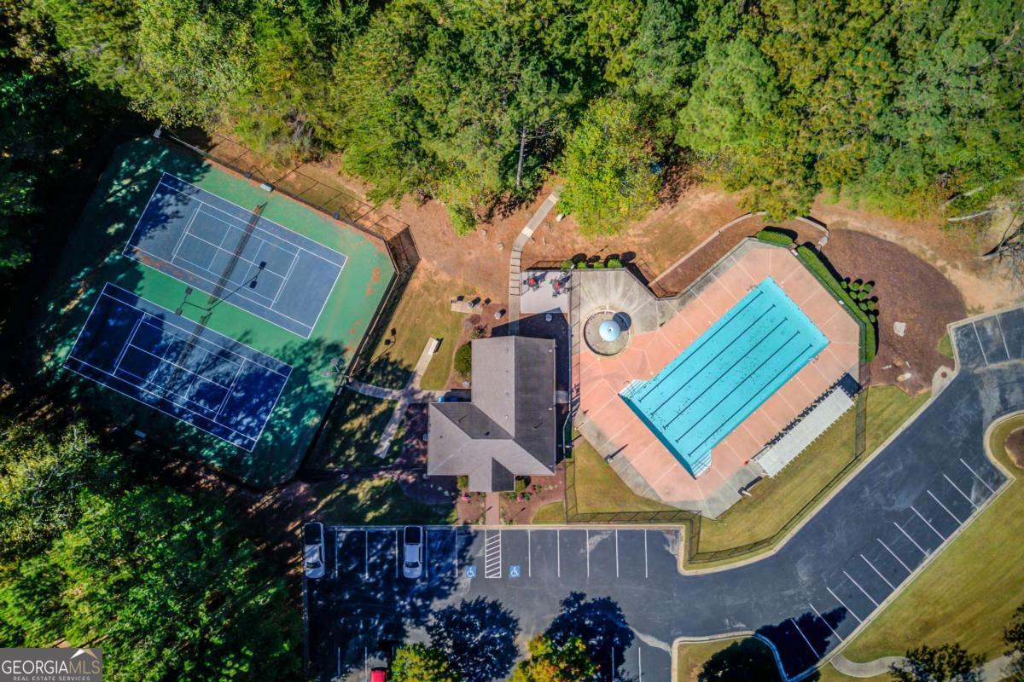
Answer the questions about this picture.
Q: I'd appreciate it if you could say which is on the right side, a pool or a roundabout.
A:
pool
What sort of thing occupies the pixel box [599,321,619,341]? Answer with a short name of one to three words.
fountain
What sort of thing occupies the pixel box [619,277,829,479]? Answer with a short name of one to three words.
swimming pool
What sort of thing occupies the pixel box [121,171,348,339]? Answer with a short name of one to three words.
tennis court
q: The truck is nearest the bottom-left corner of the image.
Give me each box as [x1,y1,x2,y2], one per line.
[301,523,324,580]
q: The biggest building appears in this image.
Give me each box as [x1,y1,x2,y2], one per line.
[427,336,556,492]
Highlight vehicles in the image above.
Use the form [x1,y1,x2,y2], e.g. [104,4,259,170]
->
[301,523,324,580]
[402,525,423,581]
[369,668,386,682]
